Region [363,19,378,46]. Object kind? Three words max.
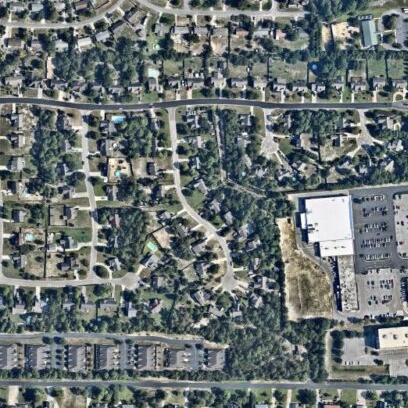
building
